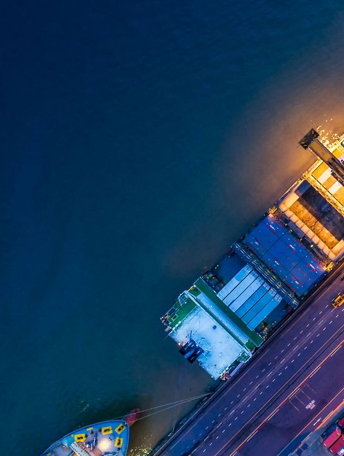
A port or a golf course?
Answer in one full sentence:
This looks like a port.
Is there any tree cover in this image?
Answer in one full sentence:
No, there is no tree cover in the image.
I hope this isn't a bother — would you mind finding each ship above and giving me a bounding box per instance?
[42,409,142,456]
[162,134,344,383]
